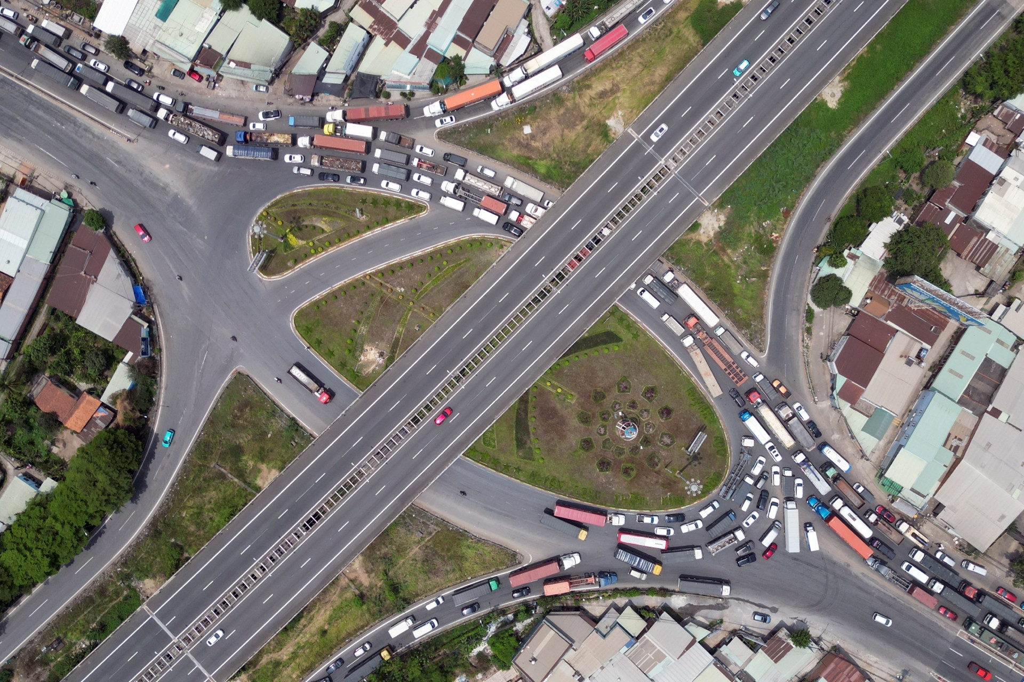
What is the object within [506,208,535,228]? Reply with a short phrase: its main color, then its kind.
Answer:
white vehicle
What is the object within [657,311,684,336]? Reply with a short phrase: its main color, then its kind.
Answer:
white truck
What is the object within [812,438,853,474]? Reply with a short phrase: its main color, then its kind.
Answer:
white bus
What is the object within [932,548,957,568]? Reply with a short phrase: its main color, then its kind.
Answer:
white car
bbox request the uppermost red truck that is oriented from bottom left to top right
[581,27,629,64]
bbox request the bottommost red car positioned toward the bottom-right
[967,661,990,680]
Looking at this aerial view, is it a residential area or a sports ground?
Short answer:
residential area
